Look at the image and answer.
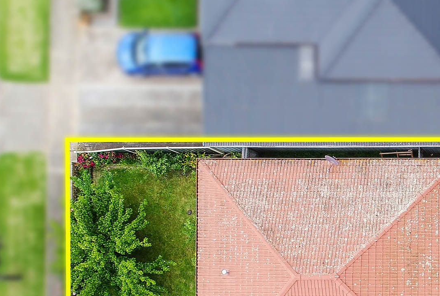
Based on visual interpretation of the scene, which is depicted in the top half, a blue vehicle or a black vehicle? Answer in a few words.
blue vehicle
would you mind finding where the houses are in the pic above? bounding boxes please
[198,0,440,155]
[196,158,440,296]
